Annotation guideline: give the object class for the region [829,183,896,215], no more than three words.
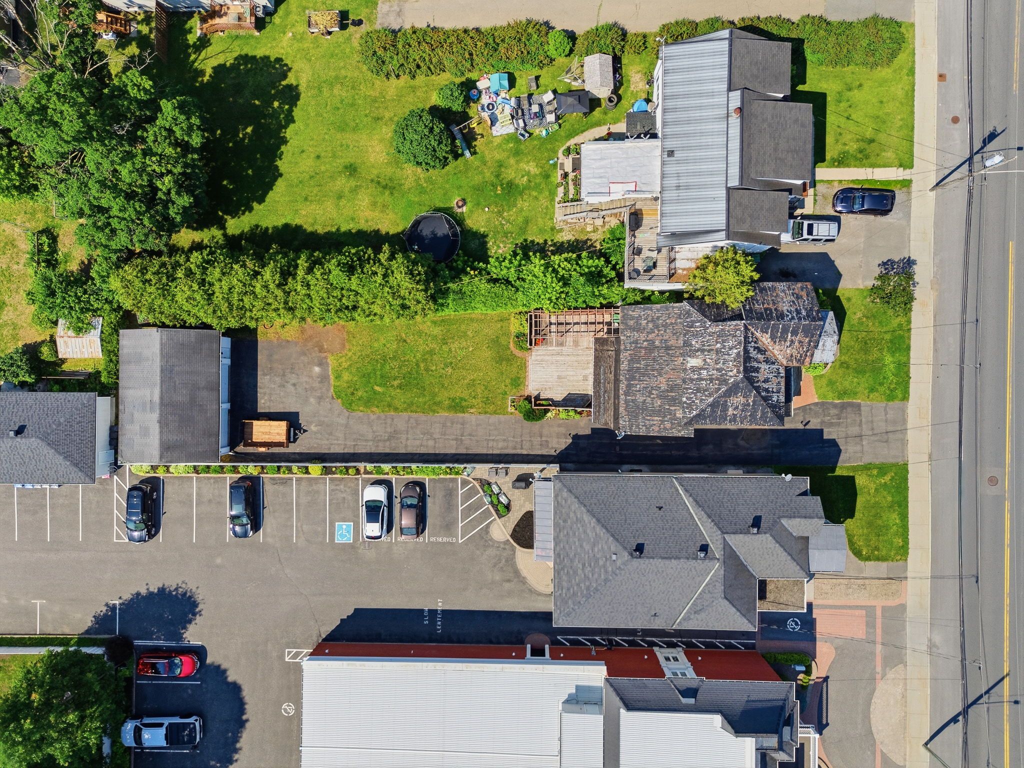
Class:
car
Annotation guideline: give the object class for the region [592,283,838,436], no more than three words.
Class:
house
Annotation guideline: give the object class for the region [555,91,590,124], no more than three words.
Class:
gazebo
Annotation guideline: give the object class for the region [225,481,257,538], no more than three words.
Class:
car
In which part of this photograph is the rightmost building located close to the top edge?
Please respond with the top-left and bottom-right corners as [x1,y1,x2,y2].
[655,28,818,253]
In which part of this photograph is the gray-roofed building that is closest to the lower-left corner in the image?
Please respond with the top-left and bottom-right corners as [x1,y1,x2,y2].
[0,392,117,485]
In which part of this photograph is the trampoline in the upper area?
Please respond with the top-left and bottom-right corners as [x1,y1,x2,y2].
[403,207,457,259]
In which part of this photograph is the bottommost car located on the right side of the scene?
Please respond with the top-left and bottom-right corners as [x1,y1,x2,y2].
[781,215,835,246]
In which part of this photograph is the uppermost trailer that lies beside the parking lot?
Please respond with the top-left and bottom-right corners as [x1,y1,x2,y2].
[239,417,301,449]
